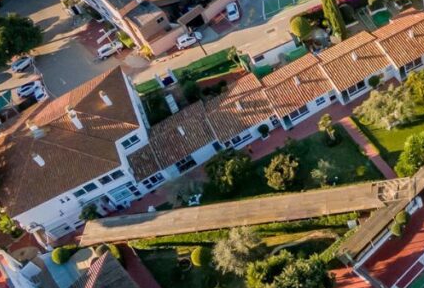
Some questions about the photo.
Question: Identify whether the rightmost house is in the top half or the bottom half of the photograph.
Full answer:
It is in the top half that the rightmost house appears.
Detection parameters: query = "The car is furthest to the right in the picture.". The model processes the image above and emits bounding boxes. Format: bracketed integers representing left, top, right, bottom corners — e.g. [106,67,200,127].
[225,1,240,23]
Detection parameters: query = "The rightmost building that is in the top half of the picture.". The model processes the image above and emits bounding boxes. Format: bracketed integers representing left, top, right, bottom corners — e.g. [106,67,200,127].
[372,11,424,83]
